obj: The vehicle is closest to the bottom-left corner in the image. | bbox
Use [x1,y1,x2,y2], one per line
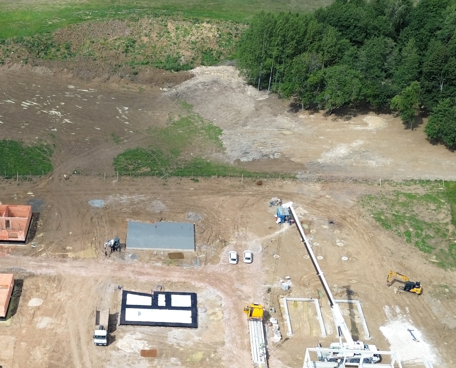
[92,311,109,344]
